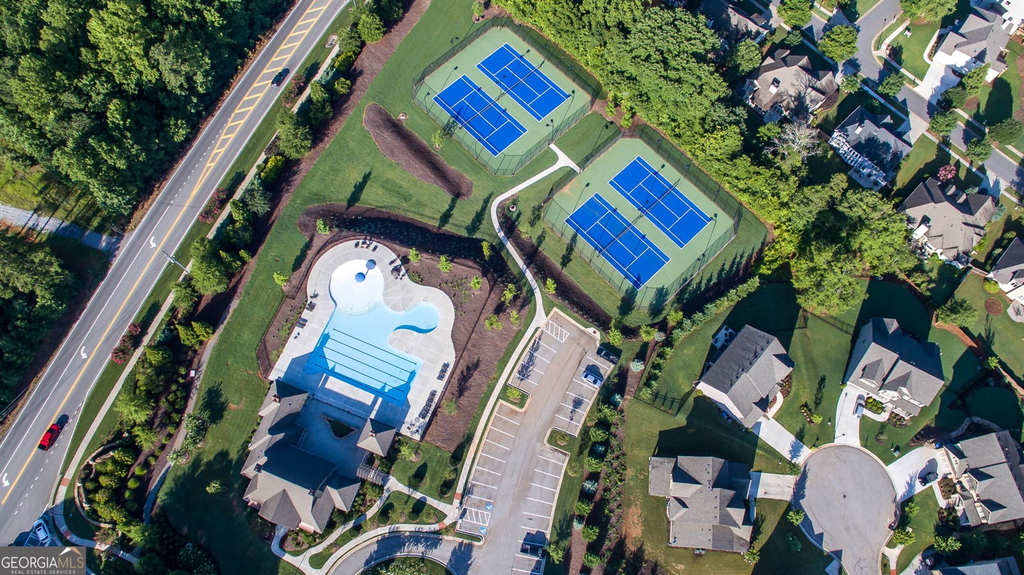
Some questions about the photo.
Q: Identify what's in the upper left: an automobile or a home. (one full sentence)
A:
Looking in the upper left, you will find an automobile.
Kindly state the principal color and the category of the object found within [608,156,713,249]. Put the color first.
blue tennis court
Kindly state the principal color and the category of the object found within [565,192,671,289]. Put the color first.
blue tennis court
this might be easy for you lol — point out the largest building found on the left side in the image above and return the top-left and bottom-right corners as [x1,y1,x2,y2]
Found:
[236,380,363,534]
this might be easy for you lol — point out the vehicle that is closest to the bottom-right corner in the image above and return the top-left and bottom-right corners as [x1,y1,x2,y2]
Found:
[919,551,946,572]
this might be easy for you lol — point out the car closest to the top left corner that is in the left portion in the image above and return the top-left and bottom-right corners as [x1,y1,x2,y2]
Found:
[271,68,288,85]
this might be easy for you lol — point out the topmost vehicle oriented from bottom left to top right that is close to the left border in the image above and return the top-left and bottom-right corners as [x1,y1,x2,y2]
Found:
[35,423,60,452]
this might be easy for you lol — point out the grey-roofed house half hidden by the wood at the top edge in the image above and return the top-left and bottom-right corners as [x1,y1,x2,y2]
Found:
[699,0,770,52]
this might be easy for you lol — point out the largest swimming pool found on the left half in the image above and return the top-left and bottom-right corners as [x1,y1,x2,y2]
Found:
[267,239,456,482]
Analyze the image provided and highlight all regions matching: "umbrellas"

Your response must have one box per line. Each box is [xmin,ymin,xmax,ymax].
[411,415,421,426]
[387,264,401,277]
